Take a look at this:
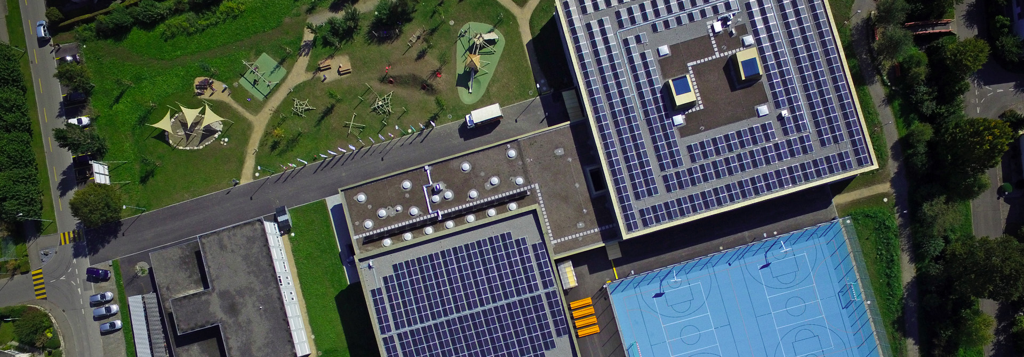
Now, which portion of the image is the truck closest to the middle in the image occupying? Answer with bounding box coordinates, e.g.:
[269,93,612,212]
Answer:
[464,103,505,129]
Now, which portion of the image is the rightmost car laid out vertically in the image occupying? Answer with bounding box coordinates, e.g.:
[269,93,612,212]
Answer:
[343,245,357,268]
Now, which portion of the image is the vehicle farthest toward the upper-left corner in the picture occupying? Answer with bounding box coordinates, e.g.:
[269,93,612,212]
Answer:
[36,20,52,42]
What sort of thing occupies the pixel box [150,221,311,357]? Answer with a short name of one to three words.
building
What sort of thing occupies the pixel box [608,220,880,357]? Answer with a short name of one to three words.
sports court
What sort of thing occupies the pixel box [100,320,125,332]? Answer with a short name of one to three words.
vehicle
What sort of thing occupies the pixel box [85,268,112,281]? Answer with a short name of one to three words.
vehicle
